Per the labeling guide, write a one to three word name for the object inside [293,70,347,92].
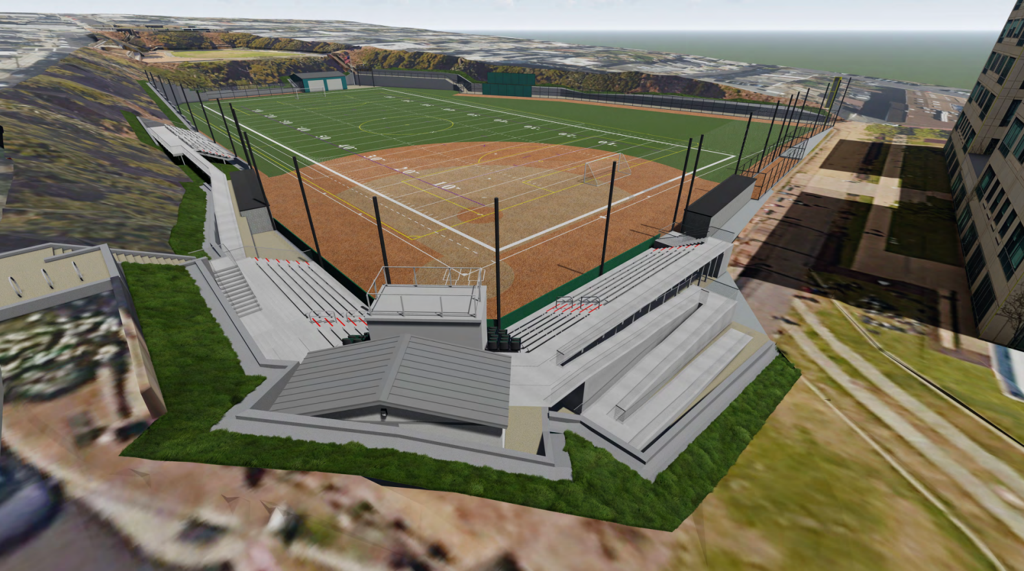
shed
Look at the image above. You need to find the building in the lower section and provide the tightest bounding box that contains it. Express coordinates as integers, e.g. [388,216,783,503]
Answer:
[270,335,511,448]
